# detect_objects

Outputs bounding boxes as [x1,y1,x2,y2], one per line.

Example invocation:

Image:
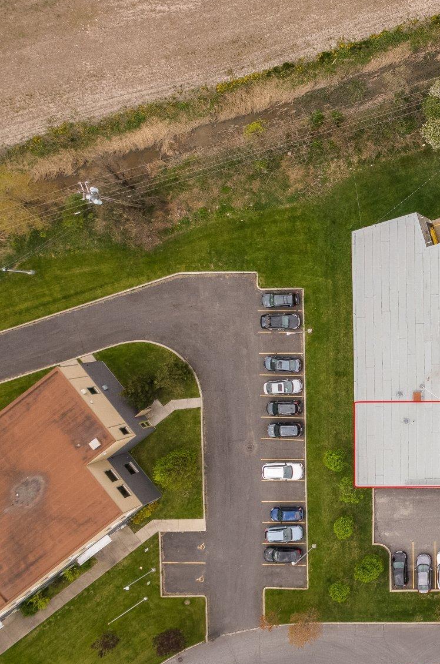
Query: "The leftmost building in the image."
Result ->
[0,364,158,619]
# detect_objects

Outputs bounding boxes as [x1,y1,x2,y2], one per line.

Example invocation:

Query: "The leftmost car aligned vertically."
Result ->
[391,550,409,587]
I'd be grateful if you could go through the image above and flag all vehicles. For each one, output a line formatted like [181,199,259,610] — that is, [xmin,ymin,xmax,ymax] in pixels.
[271,505,304,523]
[264,356,302,373]
[267,399,302,417]
[391,550,409,587]
[265,546,302,564]
[260,462,304,482]
[434,549,440,591]
[261,291,300,309]
[264,378,303,396]
[260,312,301,331]
[415,554,432,593]
[268,422,303,439]
[265,526,304,543]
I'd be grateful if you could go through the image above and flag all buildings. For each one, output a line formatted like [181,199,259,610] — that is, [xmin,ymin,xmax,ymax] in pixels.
[352,213,440,488]
[0,364,158,619]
